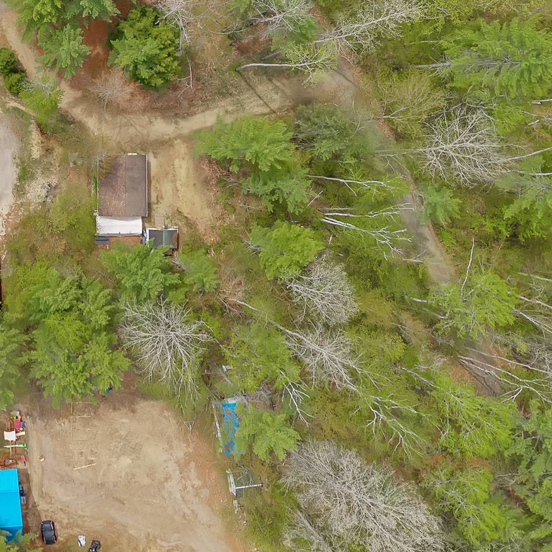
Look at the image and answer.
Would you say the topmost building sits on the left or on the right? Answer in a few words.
left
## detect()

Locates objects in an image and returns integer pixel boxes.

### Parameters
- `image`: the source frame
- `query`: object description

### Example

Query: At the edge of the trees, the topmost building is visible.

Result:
[96,152,148,219]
